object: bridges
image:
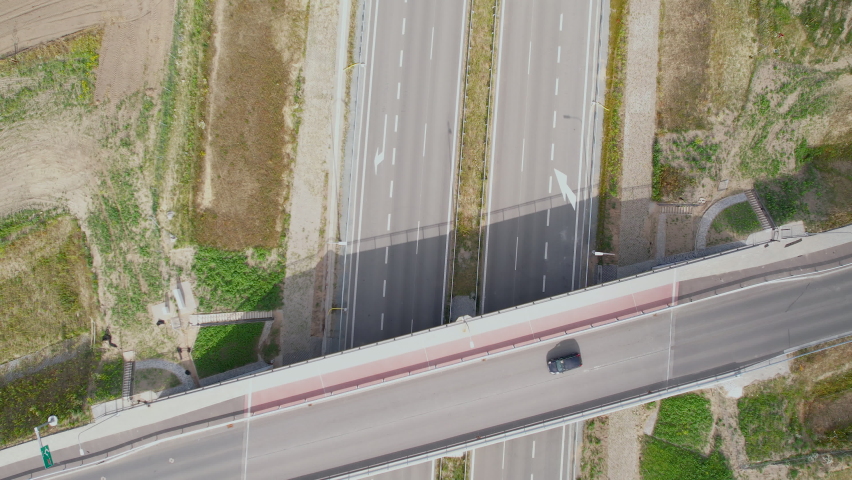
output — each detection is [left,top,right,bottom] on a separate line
[240,266,678,480]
